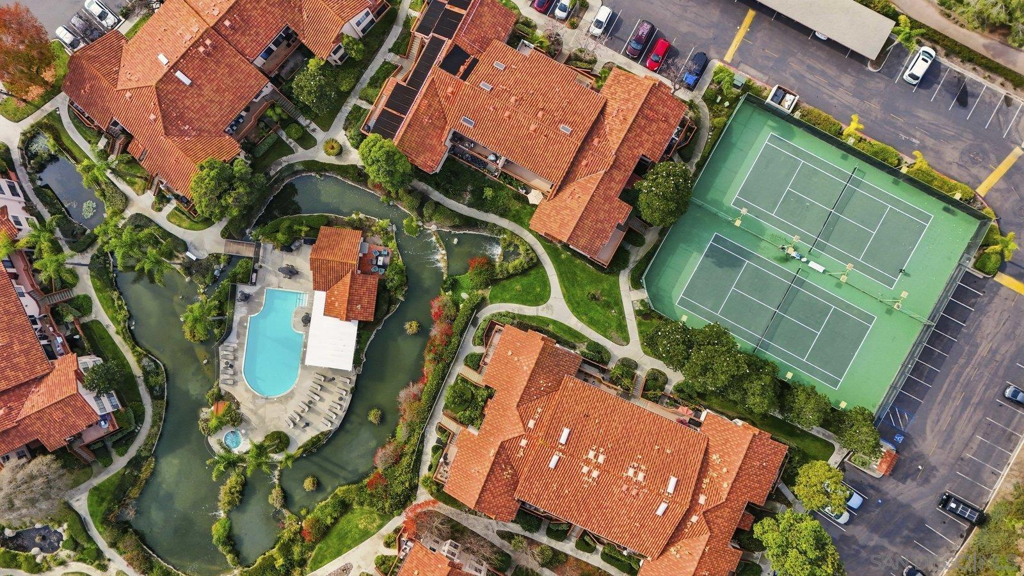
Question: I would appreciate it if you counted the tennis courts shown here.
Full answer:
The photo contains 2 tennis courts.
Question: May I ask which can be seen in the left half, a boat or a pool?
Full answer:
Visible in the left half is a pool.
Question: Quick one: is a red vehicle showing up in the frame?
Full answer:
Yes, the photo shows a red vehicle.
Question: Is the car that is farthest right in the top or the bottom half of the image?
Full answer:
The car that is farthest right sits in the bottom half of the picture.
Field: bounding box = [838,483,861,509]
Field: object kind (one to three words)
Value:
car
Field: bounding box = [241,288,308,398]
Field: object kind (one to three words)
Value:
swimming pool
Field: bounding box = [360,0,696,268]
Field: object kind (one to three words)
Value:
building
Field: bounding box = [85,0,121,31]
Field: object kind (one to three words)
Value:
car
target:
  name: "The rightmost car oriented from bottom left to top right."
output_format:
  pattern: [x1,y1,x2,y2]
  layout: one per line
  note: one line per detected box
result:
[902,47,934,87]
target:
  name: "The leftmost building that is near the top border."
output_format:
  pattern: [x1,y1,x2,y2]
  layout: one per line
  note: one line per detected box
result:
[60,0,375,217]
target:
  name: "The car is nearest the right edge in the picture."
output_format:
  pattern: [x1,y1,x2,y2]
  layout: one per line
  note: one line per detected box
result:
[1000,384,1024,408]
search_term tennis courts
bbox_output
[693,101,980,319]
[647,197,925,418]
